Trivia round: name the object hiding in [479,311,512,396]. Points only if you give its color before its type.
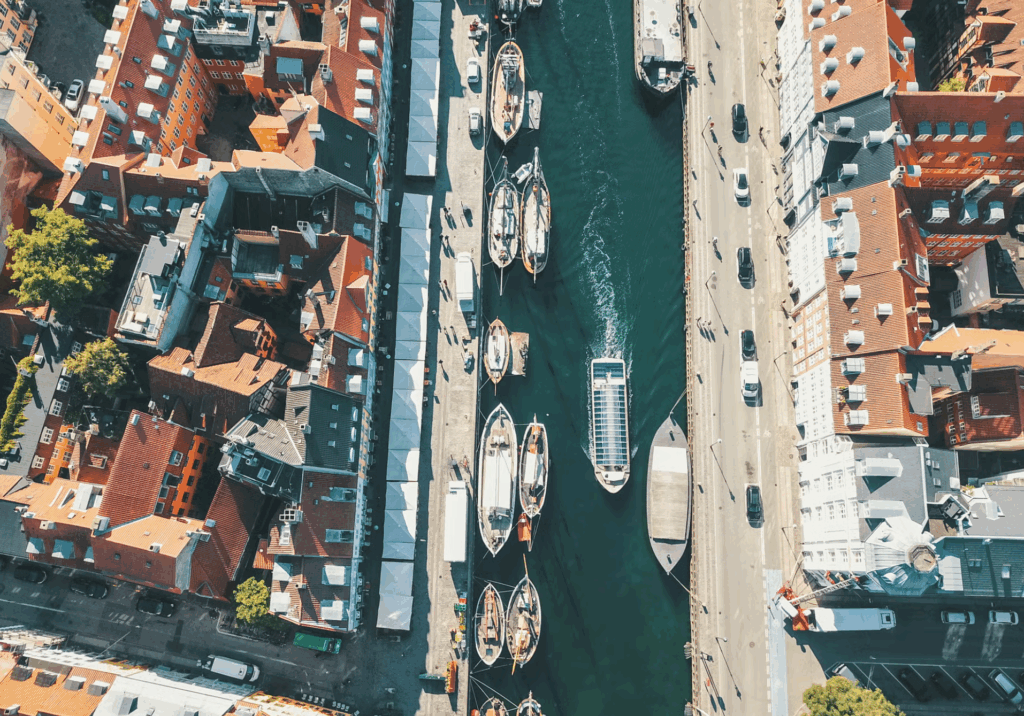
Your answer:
white boat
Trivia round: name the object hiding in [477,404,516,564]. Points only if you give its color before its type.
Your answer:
white boat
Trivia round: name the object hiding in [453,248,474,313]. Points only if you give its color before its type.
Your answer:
white truck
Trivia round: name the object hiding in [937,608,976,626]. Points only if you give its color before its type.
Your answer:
blue car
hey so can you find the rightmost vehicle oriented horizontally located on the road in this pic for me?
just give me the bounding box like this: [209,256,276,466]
[983,608,1023,626]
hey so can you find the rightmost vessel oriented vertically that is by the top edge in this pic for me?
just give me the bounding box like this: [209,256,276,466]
[637,0,688,115]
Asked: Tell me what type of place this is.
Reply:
residential area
